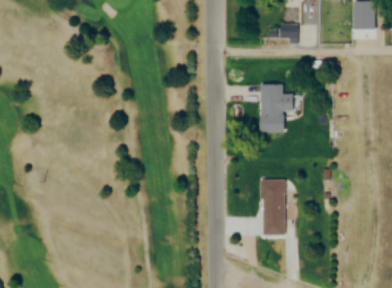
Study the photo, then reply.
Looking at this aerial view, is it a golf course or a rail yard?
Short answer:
golf course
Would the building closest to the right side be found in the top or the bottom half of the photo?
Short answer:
top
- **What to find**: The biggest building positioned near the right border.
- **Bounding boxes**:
[354,1,376,40]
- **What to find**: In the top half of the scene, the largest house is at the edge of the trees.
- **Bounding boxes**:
[260,84,295,132]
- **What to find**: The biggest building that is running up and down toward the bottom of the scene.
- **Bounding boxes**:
[261,180,286,235]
